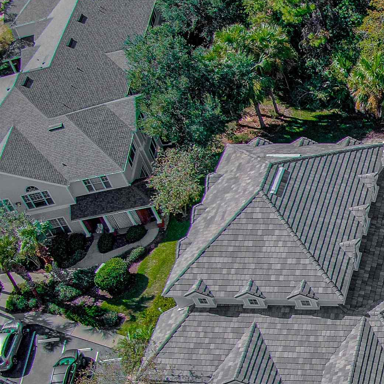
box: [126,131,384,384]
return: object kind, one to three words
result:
building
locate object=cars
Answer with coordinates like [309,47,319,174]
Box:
[0,319,33,381]
[39,346,91,384]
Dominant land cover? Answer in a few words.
buildings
